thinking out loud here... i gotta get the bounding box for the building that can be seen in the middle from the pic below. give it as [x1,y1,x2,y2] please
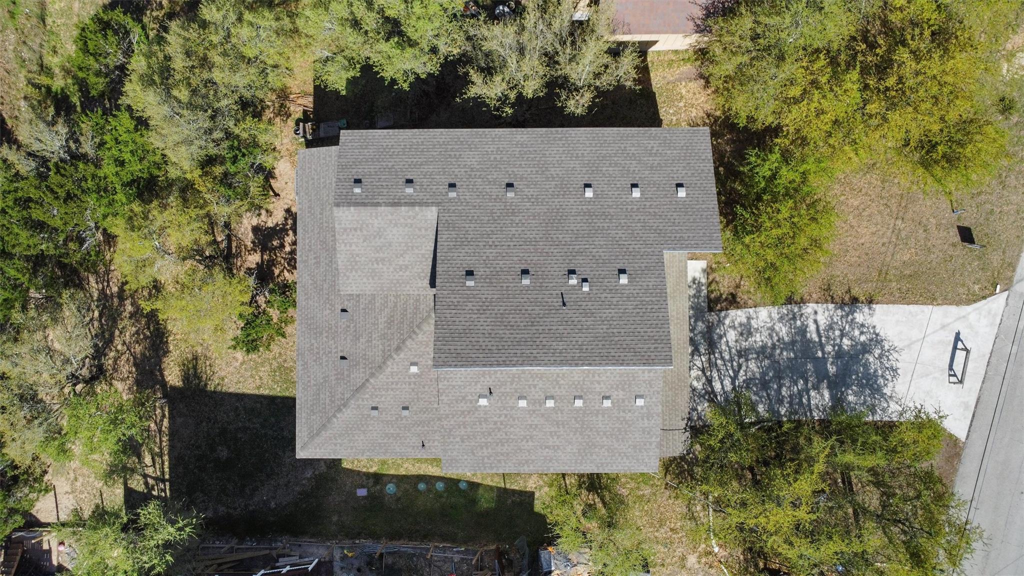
[295,128,722,473]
